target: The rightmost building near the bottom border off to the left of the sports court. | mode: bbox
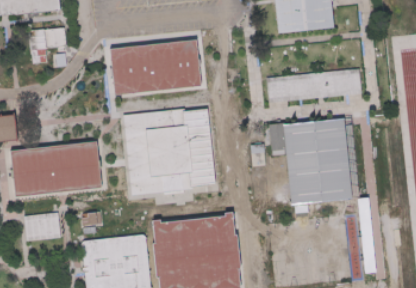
[153,212,240,288]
